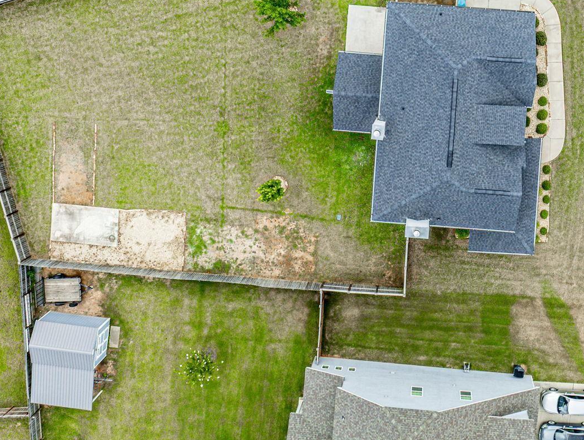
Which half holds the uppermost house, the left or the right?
right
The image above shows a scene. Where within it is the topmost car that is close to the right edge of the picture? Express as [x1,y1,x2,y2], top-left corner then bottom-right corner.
[540,388,584,421]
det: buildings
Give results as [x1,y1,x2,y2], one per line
[283,357,540,440]
[23,311,111,411]
[326,0,544,256]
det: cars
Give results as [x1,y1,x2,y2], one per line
[539,421,584,440]
[540,388,584,421]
